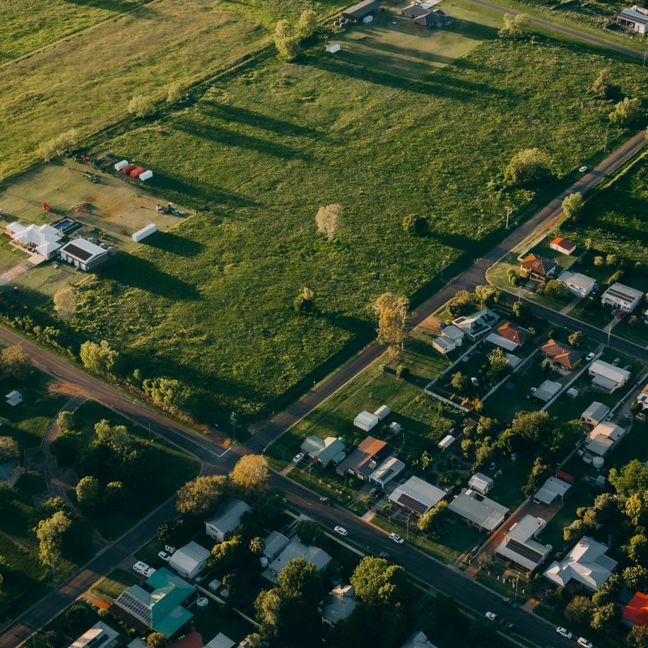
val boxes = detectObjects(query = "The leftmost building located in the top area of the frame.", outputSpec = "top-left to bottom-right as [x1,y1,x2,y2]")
[4,221,62,260]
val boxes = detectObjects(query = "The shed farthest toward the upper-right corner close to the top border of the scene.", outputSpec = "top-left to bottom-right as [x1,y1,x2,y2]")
[616,9,648,31]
